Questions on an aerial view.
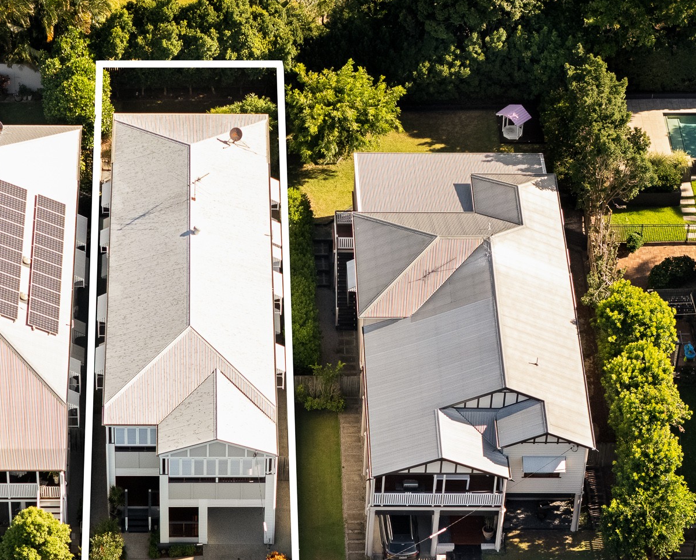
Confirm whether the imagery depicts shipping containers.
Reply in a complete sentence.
No, the scene contains no shipping container.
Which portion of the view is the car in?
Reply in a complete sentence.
The car is located in the bottom region of the scene.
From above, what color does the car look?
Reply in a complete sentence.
The car is black.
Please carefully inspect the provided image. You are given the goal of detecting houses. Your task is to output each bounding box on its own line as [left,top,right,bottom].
[0,124,89,550]
[97,111,285,544]
[334,159,597,557]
